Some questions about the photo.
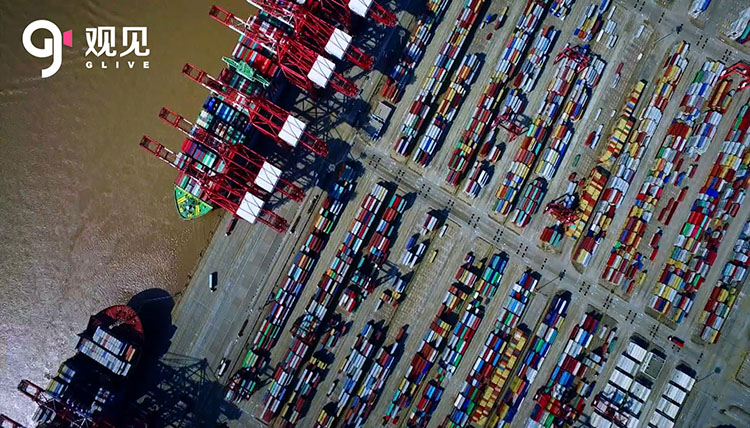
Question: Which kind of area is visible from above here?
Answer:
port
